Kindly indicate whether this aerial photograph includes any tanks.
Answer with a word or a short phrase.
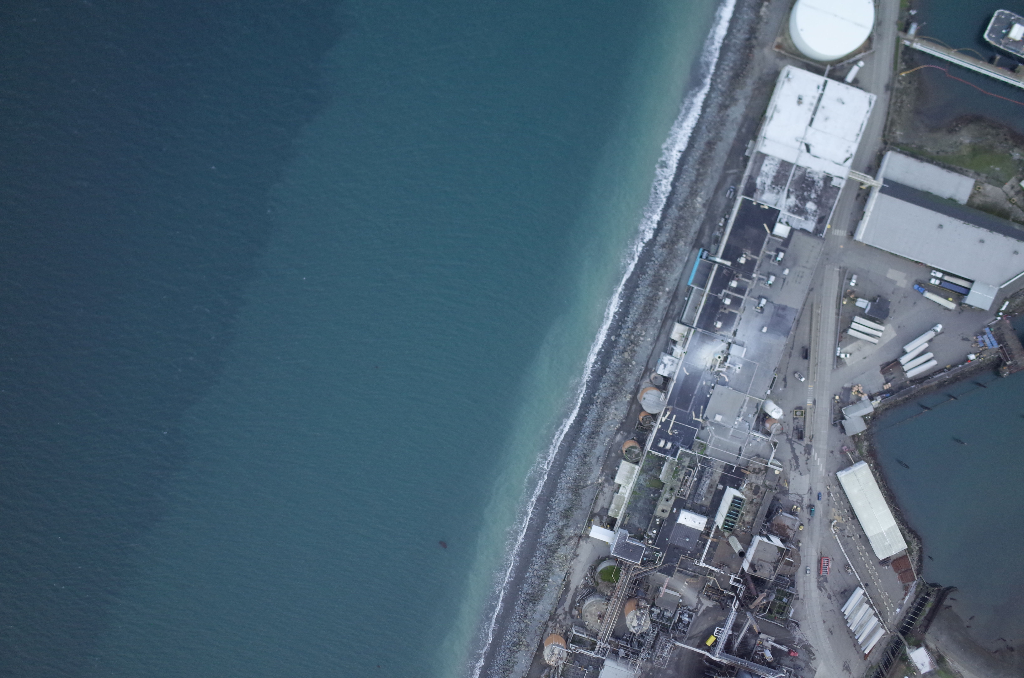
Yes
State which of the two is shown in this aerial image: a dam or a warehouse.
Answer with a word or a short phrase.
warehouse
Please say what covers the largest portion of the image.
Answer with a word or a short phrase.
water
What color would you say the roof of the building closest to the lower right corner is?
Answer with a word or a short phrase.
white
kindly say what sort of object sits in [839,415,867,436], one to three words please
shed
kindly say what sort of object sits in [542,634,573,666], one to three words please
storage tank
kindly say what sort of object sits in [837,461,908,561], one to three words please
building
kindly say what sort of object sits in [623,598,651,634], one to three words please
storage tank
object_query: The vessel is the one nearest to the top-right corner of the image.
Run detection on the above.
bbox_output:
[983,9,1024,59]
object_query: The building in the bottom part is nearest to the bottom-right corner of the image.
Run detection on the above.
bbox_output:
[907,643,935,674]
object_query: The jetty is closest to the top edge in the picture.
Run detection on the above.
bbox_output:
[896,32,1024,91]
